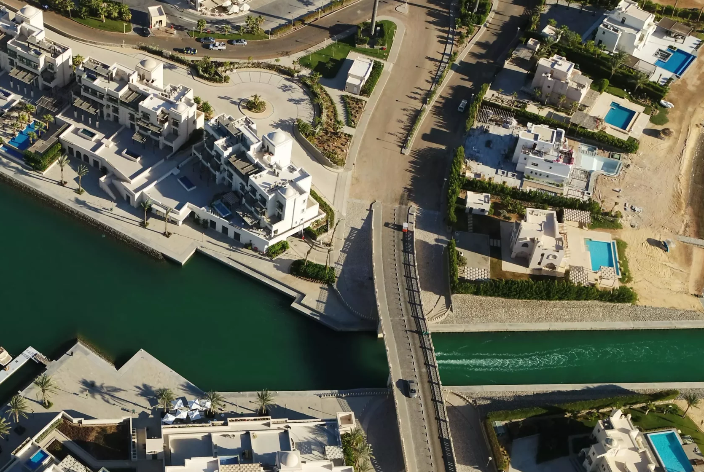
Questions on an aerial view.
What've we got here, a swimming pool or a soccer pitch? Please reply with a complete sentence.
The image shows a swimming pool.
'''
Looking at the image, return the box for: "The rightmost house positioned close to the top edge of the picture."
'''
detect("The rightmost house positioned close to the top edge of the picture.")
[593,0,656,55]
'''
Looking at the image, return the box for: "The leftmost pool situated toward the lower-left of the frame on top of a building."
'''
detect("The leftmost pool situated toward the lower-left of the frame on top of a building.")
[23,450,52,472]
